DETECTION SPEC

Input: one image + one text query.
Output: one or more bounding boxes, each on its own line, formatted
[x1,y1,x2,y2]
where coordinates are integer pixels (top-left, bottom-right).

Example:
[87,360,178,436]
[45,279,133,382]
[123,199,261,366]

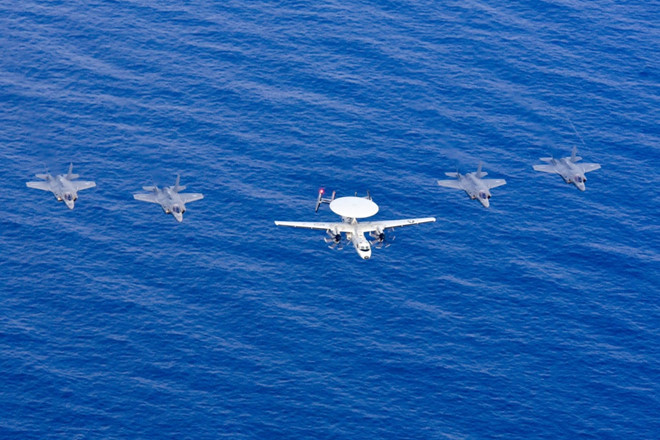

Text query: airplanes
[275,189,435,260]
[133,175,204,222]
[438,161,506,207]
[27,164,95,209]
[533,146,601,191]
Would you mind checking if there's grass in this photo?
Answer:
No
